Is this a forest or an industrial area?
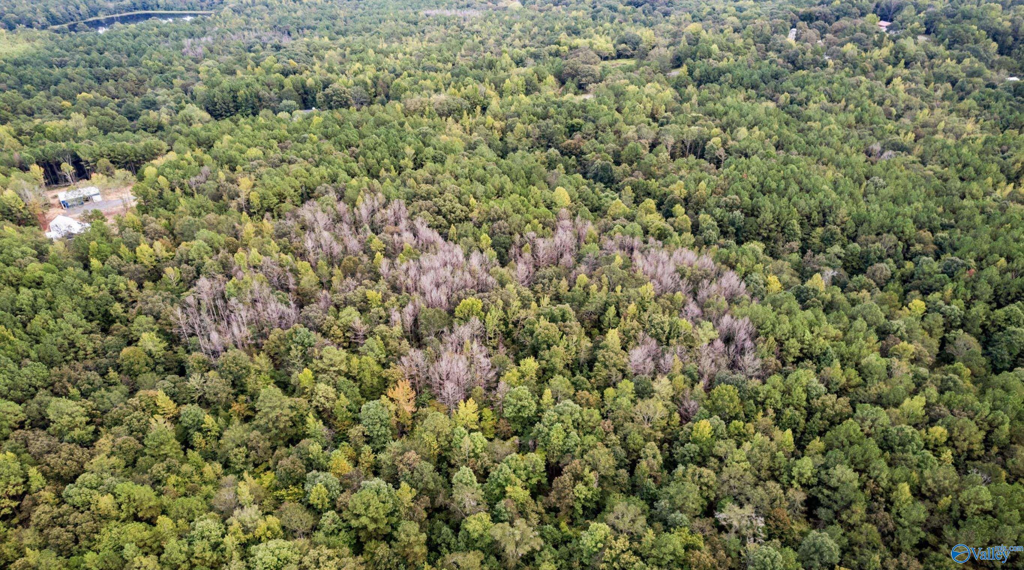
forest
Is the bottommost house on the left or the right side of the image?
left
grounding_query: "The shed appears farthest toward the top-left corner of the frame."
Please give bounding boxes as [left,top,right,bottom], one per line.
[59,183,103,209]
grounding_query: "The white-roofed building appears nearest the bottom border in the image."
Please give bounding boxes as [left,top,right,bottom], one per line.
[44,216,90,244]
